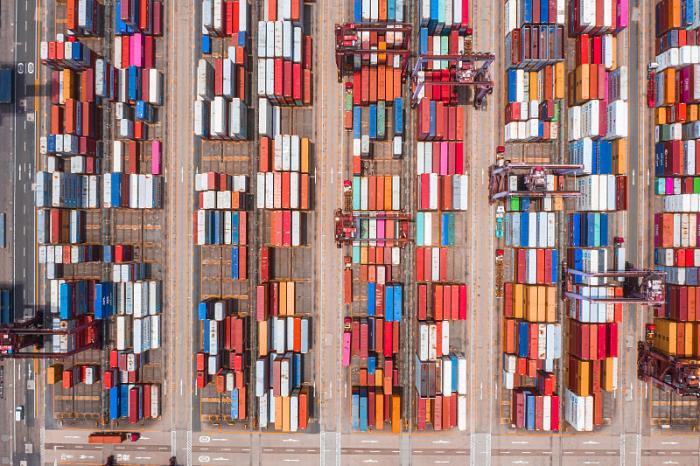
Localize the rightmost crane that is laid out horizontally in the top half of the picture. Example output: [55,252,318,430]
[492,161,586,204]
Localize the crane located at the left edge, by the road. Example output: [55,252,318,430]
[0,310,103,357]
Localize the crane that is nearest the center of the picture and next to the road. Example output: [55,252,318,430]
[334,208,414,249]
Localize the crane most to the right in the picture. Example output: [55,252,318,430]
[639,342,700,395]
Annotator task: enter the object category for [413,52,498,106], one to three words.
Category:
crane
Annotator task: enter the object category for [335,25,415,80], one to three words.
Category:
crane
